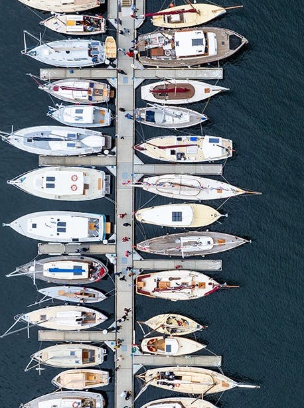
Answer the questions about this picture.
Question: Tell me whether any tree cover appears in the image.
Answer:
No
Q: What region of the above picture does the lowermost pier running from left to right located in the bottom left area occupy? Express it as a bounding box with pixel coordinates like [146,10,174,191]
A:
[37,321,115,351]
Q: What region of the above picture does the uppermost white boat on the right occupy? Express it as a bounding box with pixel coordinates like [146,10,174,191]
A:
[145,0,243,27]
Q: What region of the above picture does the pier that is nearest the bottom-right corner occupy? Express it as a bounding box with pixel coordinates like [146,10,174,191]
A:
[133,345,222,377]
